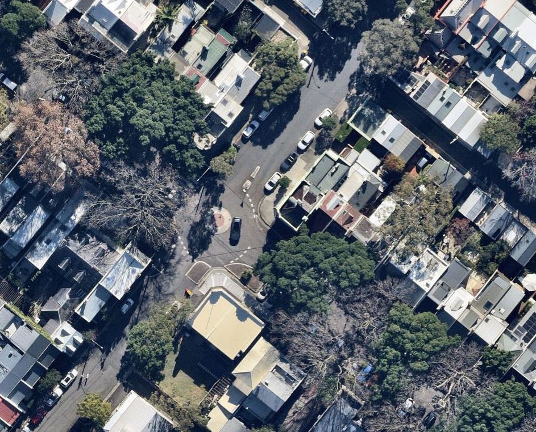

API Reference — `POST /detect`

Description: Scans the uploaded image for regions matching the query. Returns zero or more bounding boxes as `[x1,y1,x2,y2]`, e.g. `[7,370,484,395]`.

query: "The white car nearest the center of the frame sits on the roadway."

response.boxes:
[261,169,285,194]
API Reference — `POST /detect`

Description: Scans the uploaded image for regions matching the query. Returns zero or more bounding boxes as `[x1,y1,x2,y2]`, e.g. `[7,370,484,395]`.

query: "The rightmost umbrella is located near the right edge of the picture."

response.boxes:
[523,273,536,292]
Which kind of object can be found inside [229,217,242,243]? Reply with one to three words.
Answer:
vehicle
